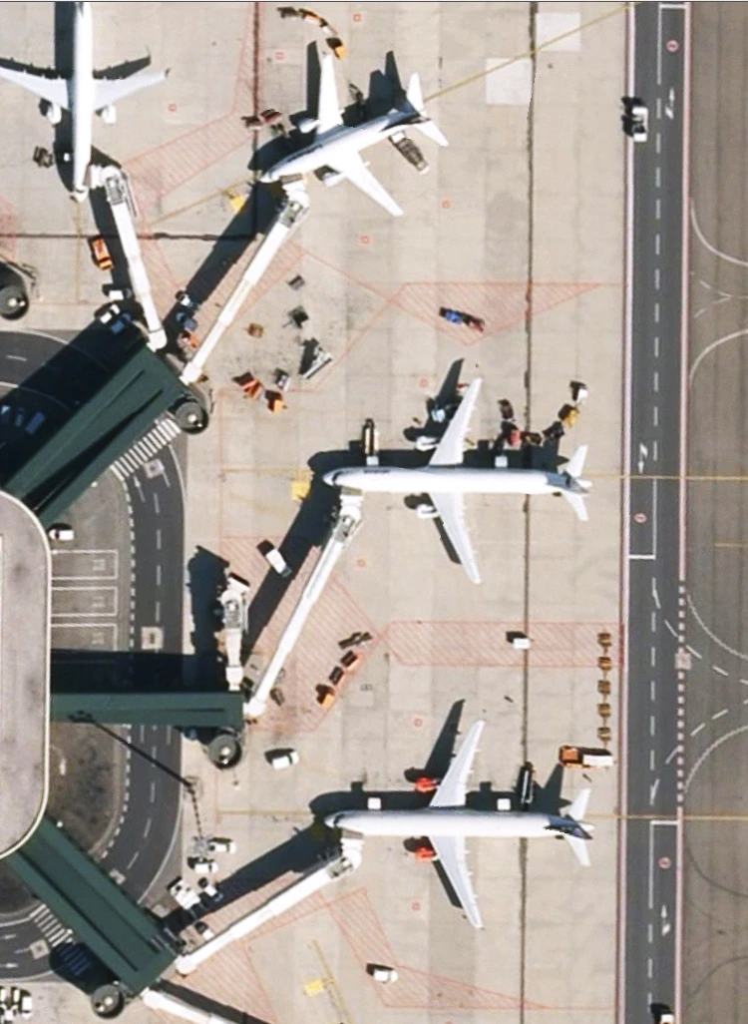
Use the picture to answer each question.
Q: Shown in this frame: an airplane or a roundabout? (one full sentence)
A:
The one in the frame is an airplane.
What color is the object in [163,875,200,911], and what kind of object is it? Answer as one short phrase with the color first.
white truck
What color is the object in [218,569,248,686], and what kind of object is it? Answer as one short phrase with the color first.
white jet bridge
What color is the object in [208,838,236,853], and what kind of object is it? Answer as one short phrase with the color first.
white vehicle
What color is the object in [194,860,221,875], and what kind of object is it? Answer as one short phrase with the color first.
white vehicle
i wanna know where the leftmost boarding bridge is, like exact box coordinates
[90,161,167,351]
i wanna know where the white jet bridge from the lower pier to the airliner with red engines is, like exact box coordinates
[173,831,364,969]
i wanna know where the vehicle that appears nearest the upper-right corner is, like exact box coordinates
[632,105,647,143]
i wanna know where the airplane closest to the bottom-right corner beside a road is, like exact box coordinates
[325,722,594,930]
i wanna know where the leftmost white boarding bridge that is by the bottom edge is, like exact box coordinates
[133,986,219,1024]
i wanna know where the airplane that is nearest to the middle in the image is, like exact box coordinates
[325,378,596,590]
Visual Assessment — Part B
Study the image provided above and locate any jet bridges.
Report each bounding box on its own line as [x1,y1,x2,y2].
[173,831,364,969]
[243,488,360,711]
[90,161,167,351]
[133,986,219,1024]
[182,173,305,393]
[218,569,248,686]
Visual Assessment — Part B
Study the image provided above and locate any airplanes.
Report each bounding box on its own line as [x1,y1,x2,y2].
[260,52,449,218]
[325,378,596,590]
[325,722,594,930]
[0,0,171,198]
